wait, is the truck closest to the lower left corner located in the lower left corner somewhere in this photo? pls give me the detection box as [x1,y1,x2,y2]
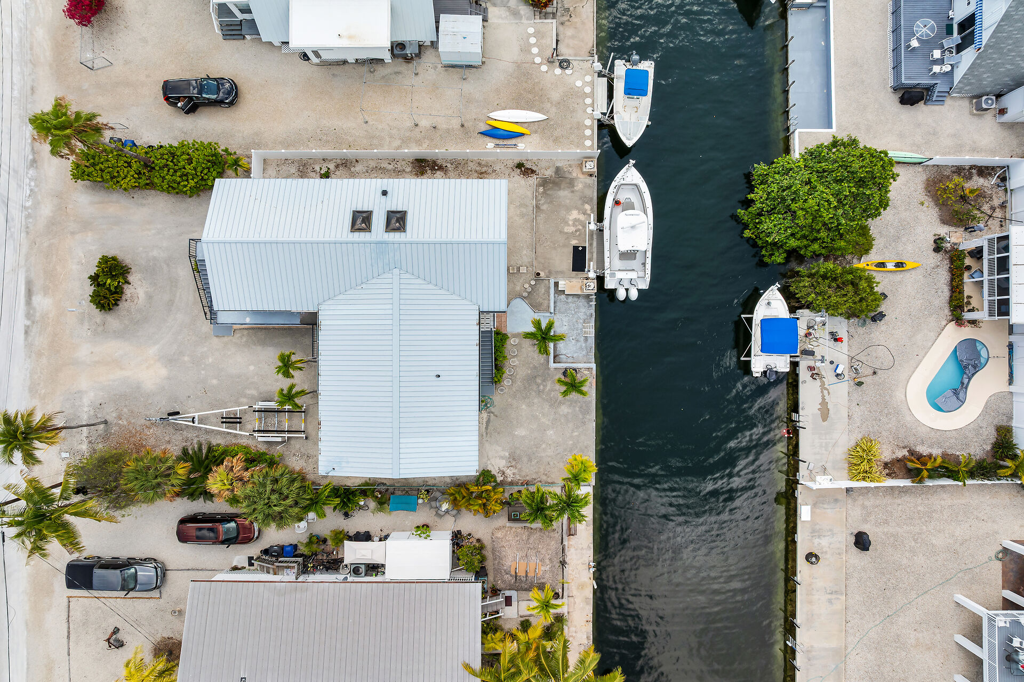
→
[65,553,166,599]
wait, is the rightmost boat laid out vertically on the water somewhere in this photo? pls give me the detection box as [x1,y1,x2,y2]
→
[748,283,799,386]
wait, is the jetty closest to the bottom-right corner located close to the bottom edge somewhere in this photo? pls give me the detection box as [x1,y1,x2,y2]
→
[789,482,847,682]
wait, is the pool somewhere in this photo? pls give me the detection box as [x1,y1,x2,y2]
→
[905,320,1010,430]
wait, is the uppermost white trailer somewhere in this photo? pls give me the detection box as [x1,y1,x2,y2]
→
[146,401,306,449]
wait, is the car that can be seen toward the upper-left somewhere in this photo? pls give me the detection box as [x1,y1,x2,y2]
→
[162,71,240,124]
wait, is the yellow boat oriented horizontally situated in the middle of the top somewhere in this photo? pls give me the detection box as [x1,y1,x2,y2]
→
[484,119,530,133]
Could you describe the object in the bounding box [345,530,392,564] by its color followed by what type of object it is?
white gazebo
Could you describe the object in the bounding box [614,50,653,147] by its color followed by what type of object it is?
white boat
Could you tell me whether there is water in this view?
Yes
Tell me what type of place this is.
residential area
